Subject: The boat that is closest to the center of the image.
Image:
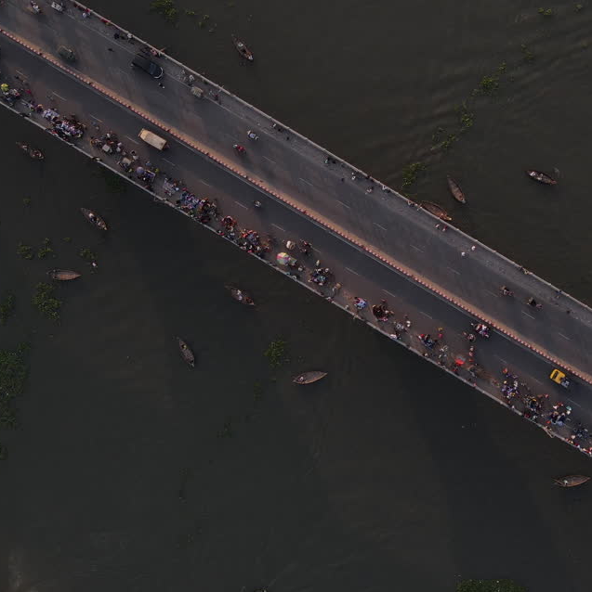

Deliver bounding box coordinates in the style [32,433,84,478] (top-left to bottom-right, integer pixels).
[222,284,255,306]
